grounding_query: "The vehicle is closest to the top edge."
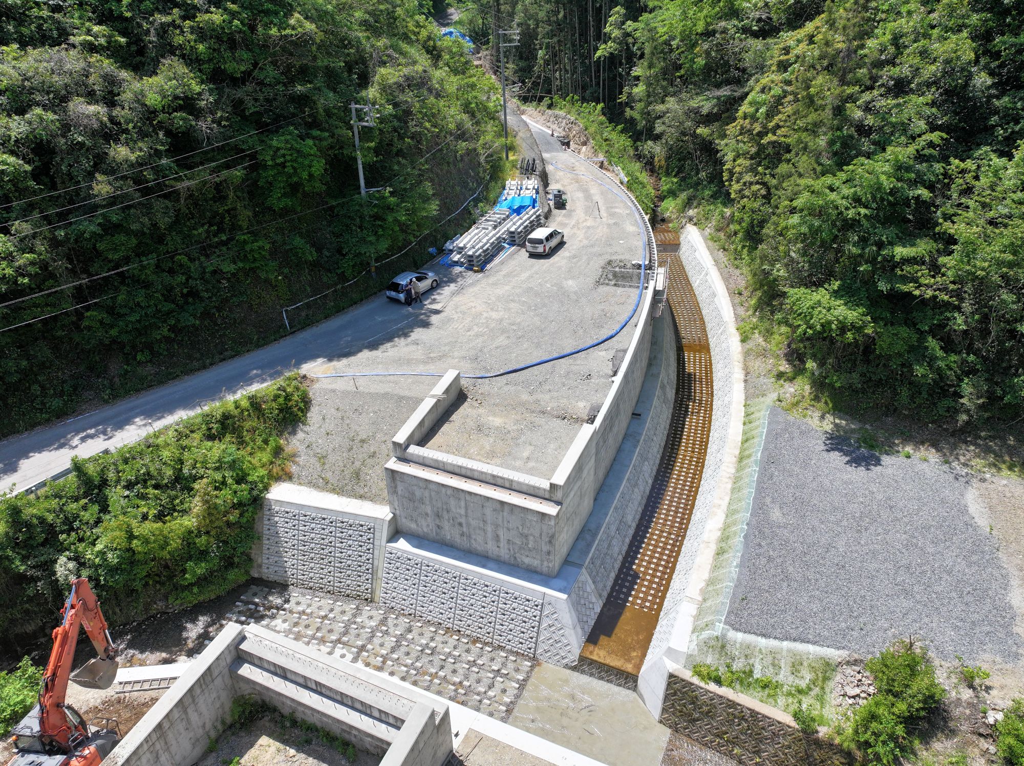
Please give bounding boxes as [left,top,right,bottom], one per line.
[524,224,567,255]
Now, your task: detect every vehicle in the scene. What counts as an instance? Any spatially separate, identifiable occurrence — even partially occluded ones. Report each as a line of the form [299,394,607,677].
[383,268,439,303]
[524,224,567,255]
[0,582,129,766]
